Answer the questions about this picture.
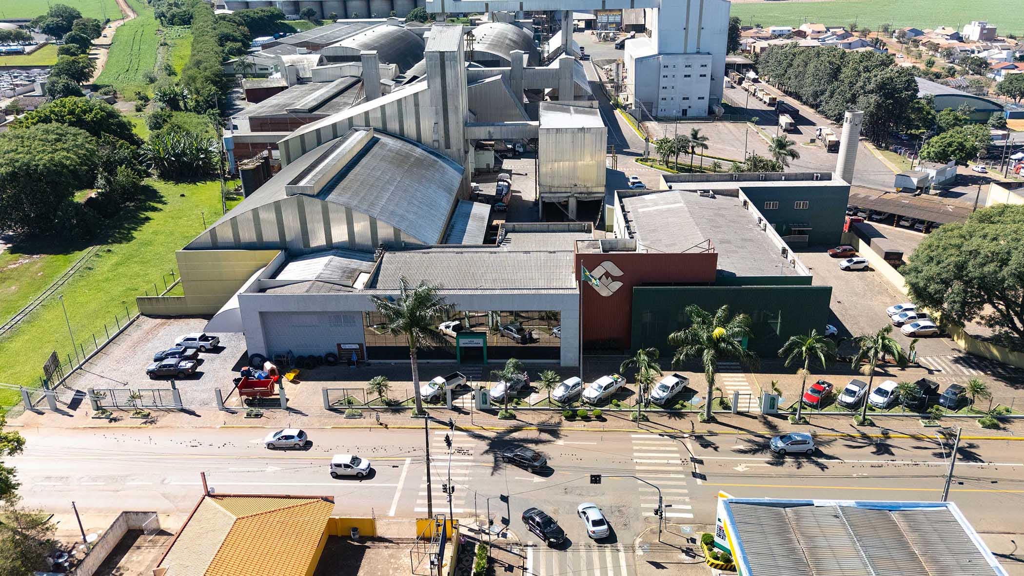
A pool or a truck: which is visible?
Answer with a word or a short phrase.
truck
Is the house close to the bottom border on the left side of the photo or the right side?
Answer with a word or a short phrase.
left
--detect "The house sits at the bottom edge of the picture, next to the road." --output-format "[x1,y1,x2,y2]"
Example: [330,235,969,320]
[147,492,342,576]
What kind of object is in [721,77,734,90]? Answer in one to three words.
vehicle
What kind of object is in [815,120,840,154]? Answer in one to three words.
truck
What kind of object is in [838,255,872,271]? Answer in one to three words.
car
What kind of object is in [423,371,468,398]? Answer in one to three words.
truck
